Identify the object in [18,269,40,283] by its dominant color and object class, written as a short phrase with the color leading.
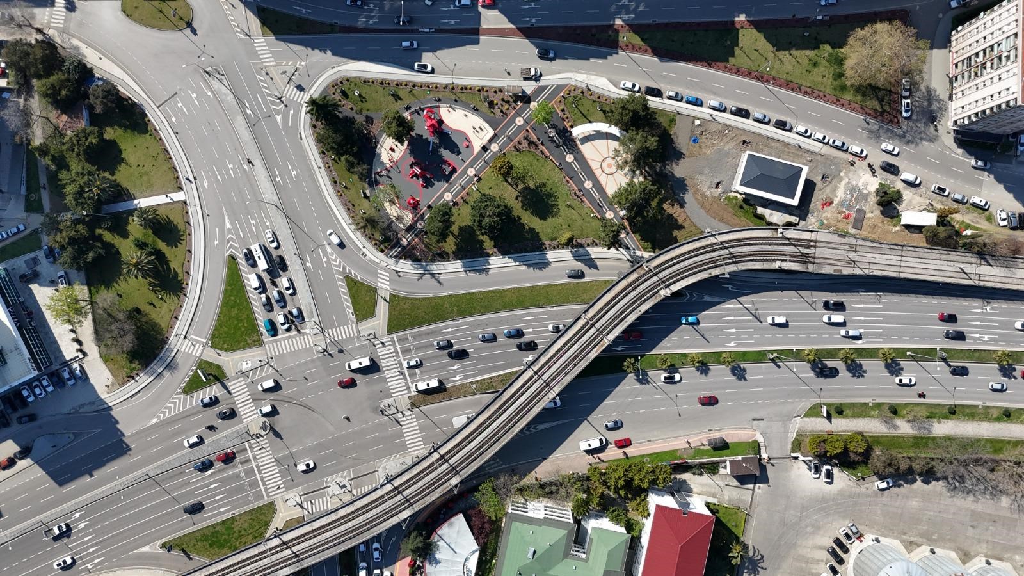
black car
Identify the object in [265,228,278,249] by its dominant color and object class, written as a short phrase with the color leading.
white vehicle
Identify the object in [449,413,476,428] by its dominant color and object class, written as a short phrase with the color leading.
white vehicle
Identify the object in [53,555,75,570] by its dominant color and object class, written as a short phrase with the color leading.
white car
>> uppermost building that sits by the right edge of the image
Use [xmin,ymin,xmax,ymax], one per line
[949,0,1024,152]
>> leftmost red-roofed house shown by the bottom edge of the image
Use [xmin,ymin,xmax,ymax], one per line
[633,485,716,576]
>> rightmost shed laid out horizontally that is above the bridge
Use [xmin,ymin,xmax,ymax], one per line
[896,212,937,225]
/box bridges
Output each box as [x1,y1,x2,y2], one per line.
[178,228,1024,576]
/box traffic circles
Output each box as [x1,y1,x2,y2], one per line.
[121,0,193,31]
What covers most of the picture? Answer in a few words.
paved ground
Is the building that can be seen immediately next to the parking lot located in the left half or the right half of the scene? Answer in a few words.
left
